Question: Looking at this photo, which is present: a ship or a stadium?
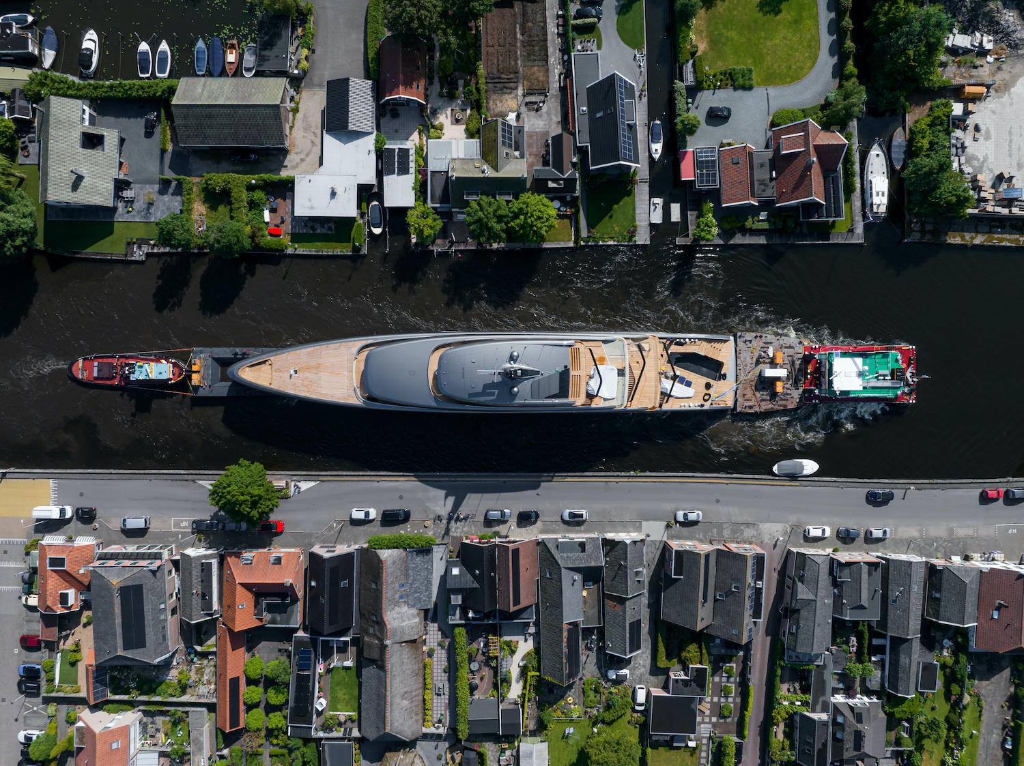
ship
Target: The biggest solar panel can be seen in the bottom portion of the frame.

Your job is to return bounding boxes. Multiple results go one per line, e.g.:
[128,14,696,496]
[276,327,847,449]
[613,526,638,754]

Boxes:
[121,585,146,650]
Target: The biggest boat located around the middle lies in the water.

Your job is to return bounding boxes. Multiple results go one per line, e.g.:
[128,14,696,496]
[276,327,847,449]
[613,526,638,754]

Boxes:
[231,333,737,412]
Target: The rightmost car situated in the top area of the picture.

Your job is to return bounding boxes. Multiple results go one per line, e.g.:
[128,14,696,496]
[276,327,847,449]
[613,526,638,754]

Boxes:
[706,105,731,118]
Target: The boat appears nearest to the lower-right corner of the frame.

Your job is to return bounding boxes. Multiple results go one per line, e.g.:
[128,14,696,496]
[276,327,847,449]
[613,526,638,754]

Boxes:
[772,459,820,476]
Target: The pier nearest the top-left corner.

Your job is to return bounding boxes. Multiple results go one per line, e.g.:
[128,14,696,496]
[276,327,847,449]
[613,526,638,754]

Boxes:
[130,244,178,260]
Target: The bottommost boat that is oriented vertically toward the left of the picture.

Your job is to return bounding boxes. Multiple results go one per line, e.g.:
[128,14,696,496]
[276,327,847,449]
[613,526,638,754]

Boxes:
[368,200,383,235]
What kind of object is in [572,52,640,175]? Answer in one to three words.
house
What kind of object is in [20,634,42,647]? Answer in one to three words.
vehicle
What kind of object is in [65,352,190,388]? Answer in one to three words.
boat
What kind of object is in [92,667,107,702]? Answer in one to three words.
solar panel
